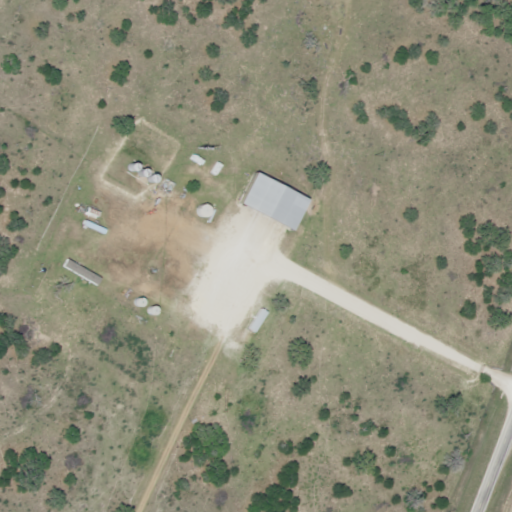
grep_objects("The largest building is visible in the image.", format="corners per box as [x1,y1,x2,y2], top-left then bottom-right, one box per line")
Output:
[241,172,311,230]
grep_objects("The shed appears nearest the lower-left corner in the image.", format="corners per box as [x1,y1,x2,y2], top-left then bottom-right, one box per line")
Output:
[64,259,102,285]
